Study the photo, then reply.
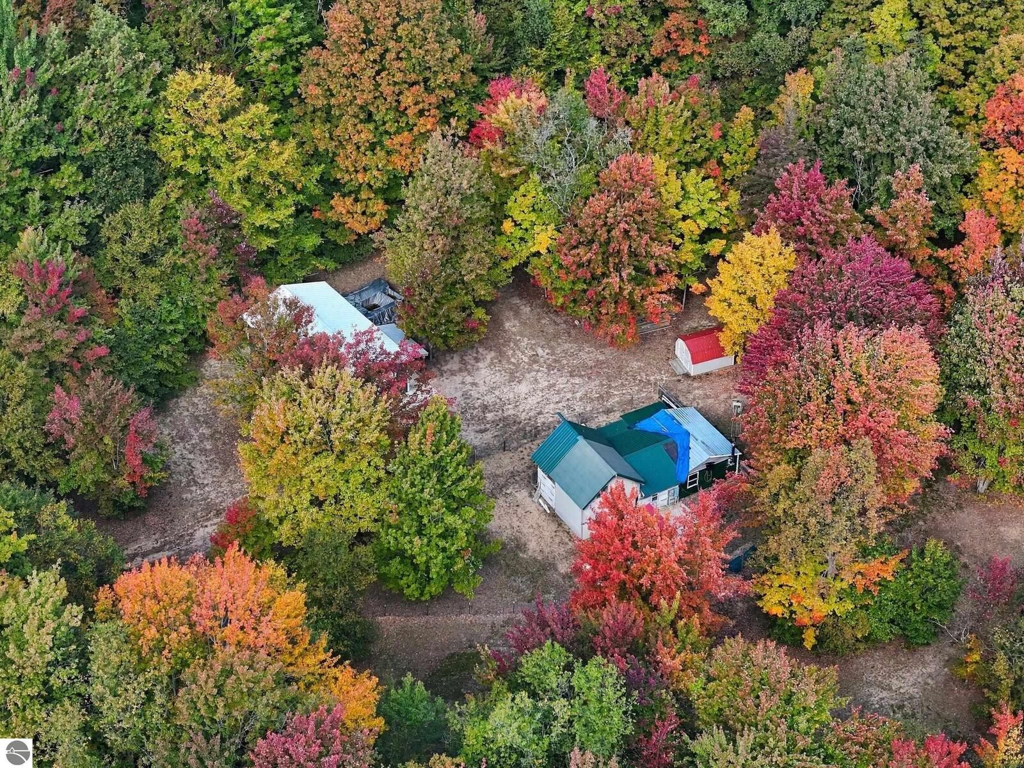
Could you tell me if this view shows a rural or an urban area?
rural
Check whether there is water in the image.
No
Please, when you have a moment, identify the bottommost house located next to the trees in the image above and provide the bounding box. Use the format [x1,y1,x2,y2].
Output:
[527,398,741,538]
